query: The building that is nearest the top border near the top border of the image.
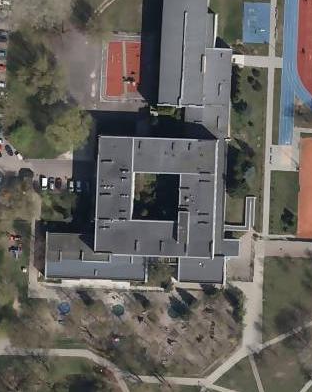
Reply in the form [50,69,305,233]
[157,0,233,137]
